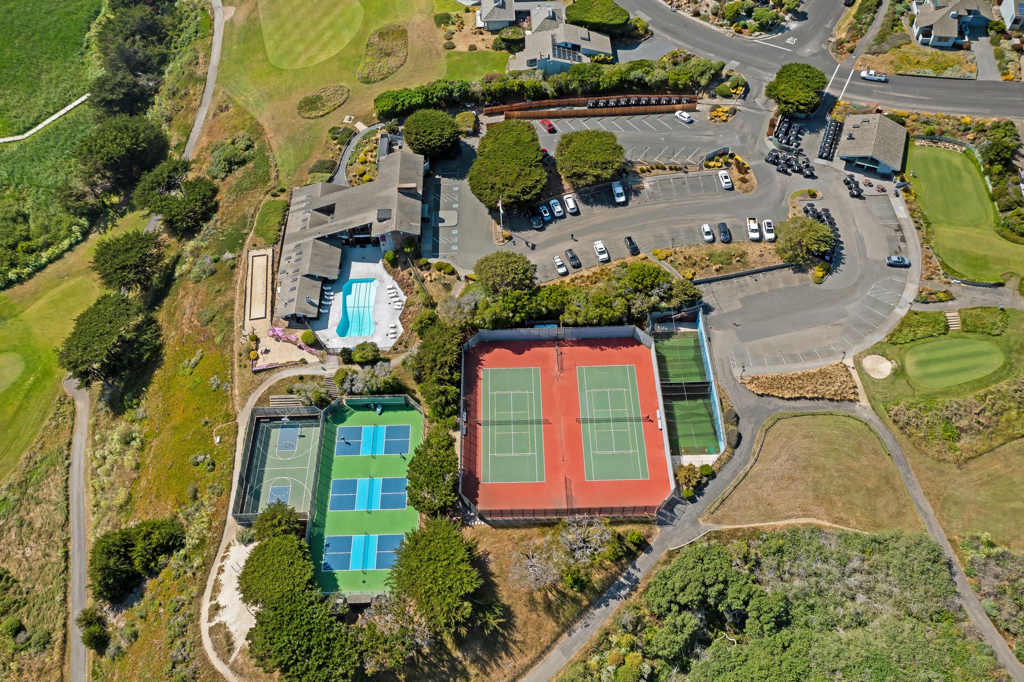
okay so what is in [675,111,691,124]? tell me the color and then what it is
white vehicle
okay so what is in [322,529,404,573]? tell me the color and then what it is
blue sports court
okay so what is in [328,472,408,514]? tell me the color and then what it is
blue sports court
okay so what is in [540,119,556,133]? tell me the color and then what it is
red car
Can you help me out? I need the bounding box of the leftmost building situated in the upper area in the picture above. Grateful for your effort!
[277,130,430,324]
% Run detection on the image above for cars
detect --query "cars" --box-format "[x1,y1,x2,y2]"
[538,205,550,221]
[700,223,713,242]
[886,256,910,268]
[540,119,556,133]
[624,235,639,254]
[718,171,731,188]
[612,181,626,203]
[552,256,567,275]
[549,200,563,217]
[717,223,731,242]
[565,249,580,268]
[761,220,775,239]
[675,111,691,124]
[524,207,542,228]
[564,195,577,213]
[593,241,608,261]
[747,216,760,239]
